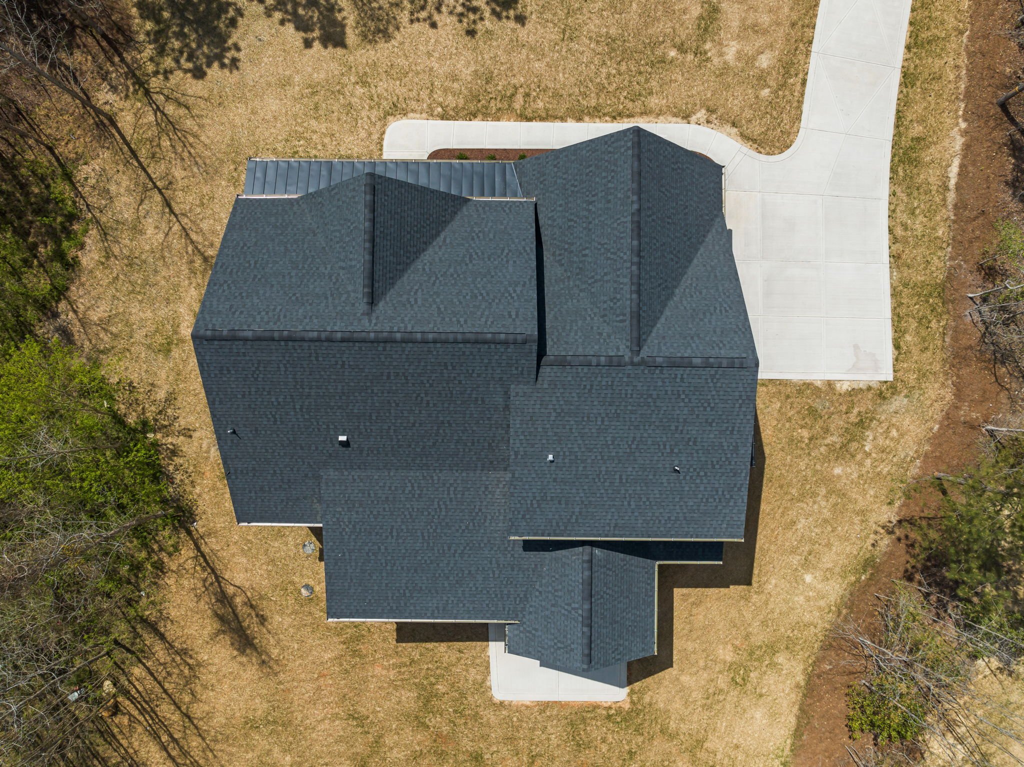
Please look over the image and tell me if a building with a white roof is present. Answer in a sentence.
No, no building with a white roof is visible in the view.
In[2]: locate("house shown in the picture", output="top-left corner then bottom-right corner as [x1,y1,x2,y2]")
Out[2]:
[192,125,758,673]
